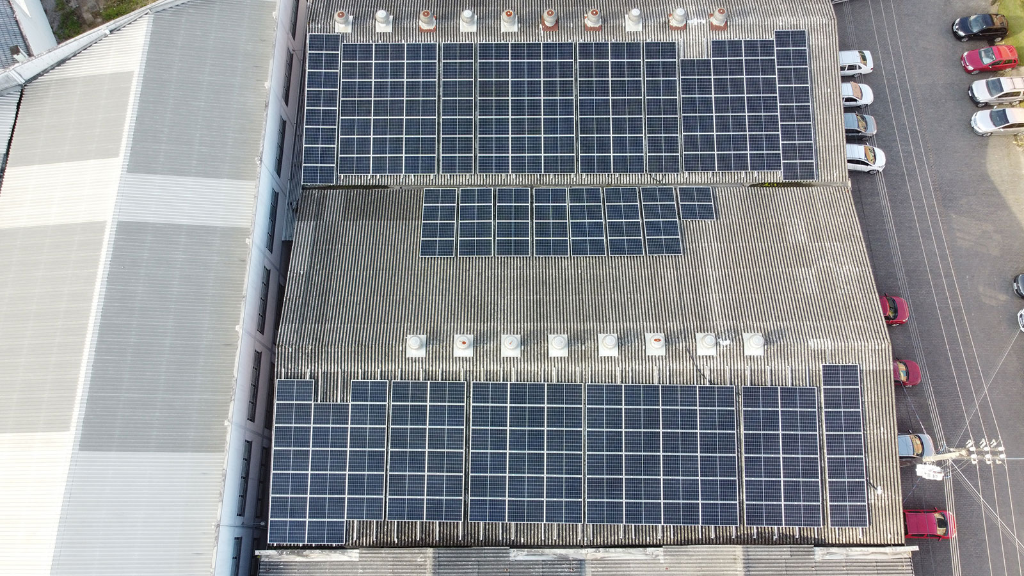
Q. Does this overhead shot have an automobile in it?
Yes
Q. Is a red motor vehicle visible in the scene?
Yes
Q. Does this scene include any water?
No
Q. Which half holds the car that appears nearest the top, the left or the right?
right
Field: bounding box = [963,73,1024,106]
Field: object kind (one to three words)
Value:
car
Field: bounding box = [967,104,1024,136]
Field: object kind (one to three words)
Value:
car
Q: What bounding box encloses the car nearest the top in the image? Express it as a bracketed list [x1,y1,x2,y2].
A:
[949,11,1013,42]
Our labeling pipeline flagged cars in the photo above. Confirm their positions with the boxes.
[963,73,1024,106]
[957,41,1024,74]
[949,11,1013,42]
[902,507,958,544]
[840,49,876,78]
[893,355,922,387]
[879,294,911,326]
[844,110,878,141]
[967,104,1024,136]
[897,427,936,458]
[846,142,886,174]
[842,78,874,109]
